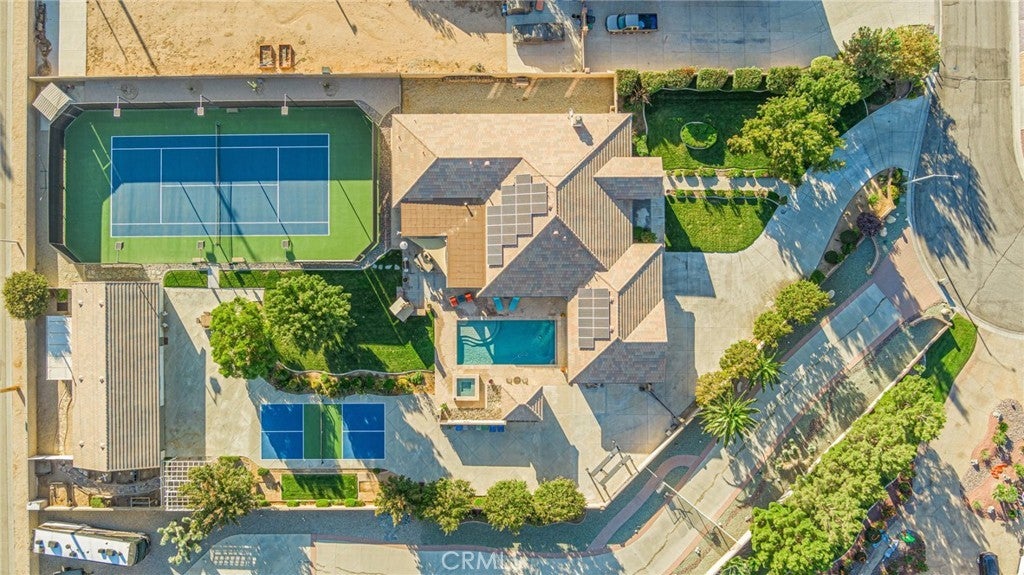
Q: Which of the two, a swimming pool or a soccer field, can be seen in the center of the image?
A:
swimming pool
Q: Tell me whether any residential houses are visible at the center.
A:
Yes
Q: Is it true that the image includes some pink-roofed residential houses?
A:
No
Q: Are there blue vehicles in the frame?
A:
Yes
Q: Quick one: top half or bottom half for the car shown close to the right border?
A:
bottom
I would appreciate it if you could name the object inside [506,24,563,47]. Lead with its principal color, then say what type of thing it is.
gray trailer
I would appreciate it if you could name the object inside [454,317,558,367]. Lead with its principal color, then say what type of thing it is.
blue swimming pool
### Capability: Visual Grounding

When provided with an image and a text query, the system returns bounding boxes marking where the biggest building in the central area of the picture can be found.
[391,112,667,384]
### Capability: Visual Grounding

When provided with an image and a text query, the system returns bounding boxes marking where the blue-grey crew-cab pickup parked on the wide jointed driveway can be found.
[604,11,659,35]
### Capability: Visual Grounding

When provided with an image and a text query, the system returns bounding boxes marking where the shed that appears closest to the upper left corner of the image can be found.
[32,82,77,121]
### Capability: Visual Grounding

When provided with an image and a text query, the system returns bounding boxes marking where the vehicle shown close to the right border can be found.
[974,553,999,575]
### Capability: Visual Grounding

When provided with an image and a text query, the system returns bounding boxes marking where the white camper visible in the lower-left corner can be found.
[34,521,153,567]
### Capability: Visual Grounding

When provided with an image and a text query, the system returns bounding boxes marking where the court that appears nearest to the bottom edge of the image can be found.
[261,404,384,460]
